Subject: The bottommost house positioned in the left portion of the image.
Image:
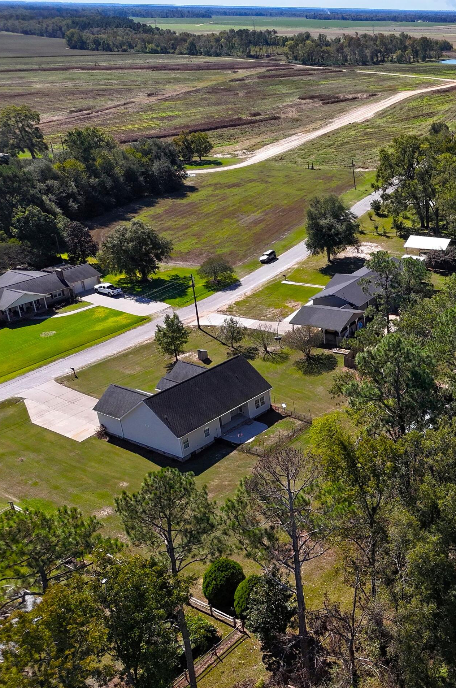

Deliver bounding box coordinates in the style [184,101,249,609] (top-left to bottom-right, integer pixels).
[81,356,272,460]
